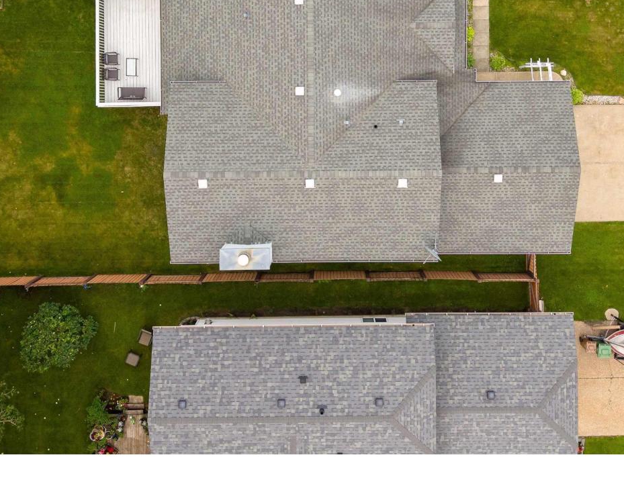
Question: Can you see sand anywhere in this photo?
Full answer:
No, sand can't be seen anywhere here.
